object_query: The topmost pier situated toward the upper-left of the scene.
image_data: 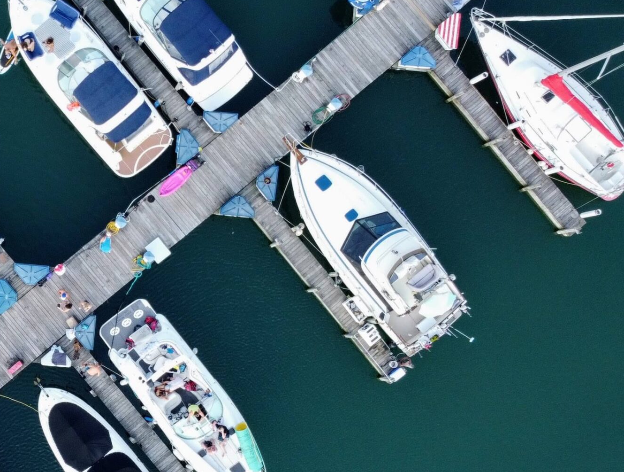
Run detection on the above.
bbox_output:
[68,0,217,149]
